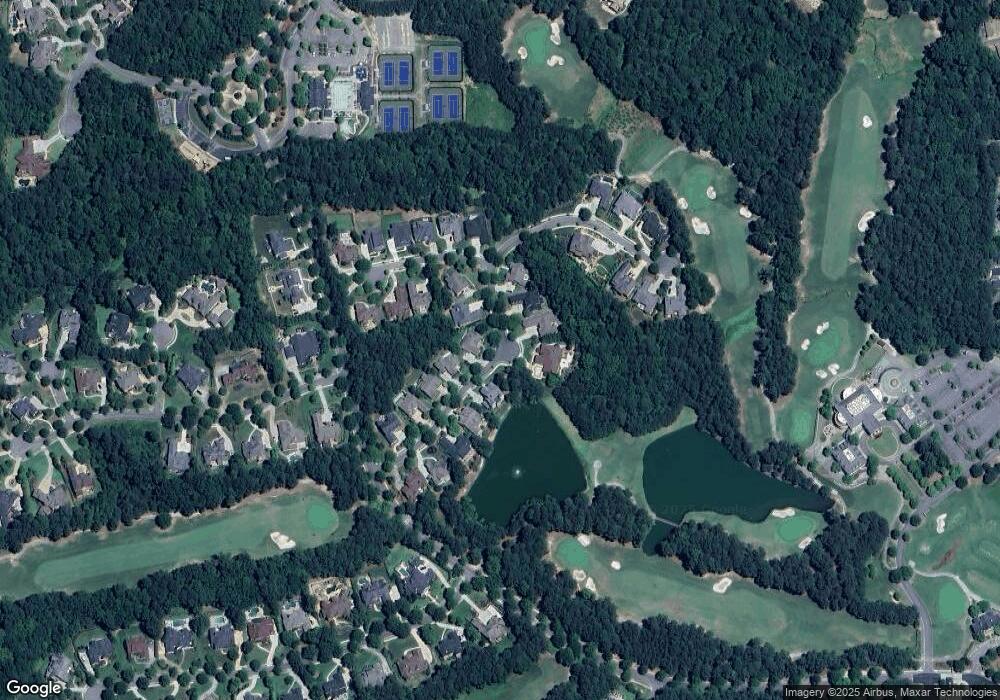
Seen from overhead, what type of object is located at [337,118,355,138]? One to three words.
swimming pool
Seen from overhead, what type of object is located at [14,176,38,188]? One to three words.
swimming pool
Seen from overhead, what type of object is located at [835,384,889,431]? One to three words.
building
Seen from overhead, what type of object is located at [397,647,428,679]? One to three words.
house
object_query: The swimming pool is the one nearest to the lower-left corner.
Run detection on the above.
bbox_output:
[163,615,193,629]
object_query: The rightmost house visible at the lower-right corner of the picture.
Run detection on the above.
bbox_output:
[967,608,1000,643]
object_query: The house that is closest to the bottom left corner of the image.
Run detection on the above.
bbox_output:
[45,654,74,681]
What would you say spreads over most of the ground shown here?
trees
